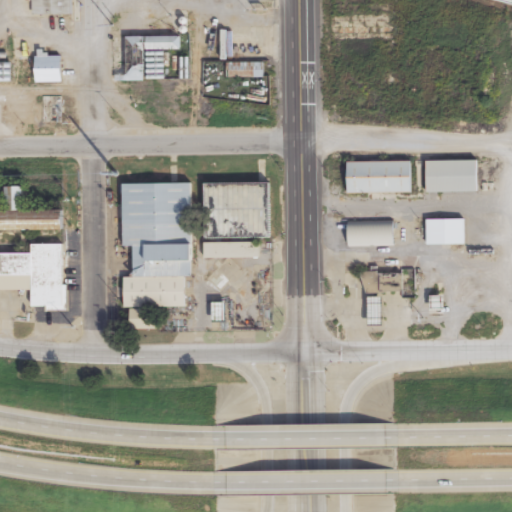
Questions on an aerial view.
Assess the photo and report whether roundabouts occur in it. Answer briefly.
No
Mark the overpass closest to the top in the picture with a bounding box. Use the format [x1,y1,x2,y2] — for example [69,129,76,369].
[218,423,394,449]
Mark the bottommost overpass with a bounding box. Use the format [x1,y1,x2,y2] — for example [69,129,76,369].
[218,470,394,495]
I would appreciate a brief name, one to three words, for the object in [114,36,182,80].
building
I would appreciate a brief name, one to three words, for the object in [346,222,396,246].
shed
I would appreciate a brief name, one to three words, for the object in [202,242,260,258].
building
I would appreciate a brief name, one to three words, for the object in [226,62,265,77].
shed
